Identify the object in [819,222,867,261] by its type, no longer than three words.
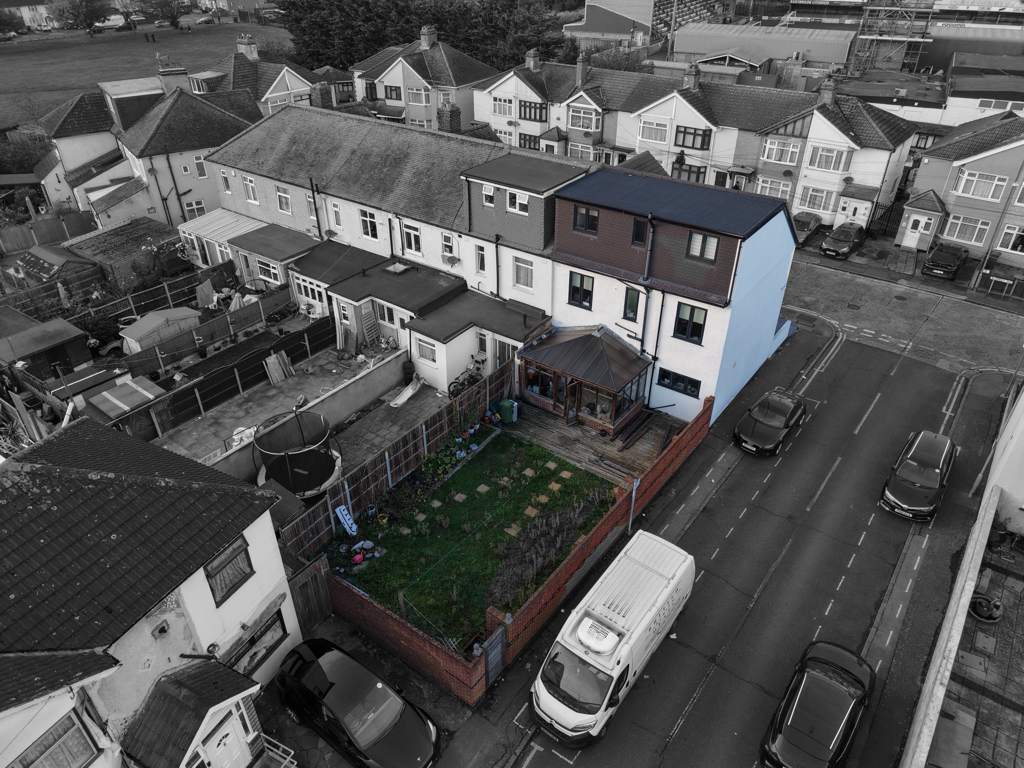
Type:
car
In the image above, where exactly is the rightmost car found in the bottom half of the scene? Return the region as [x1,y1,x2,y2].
[876,428,960,528]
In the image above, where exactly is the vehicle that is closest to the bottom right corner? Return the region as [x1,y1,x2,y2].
[749,646,882,768]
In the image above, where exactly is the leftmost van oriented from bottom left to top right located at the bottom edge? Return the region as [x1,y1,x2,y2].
[521,529,696,756]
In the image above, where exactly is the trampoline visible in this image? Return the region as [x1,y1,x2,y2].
[252,412,342,496]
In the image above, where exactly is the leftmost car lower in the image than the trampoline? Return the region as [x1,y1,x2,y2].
[261,640,448,768]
